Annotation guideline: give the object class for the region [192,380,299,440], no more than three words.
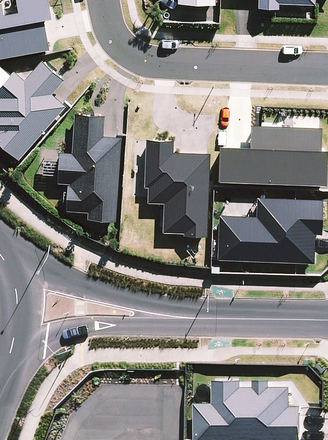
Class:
house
